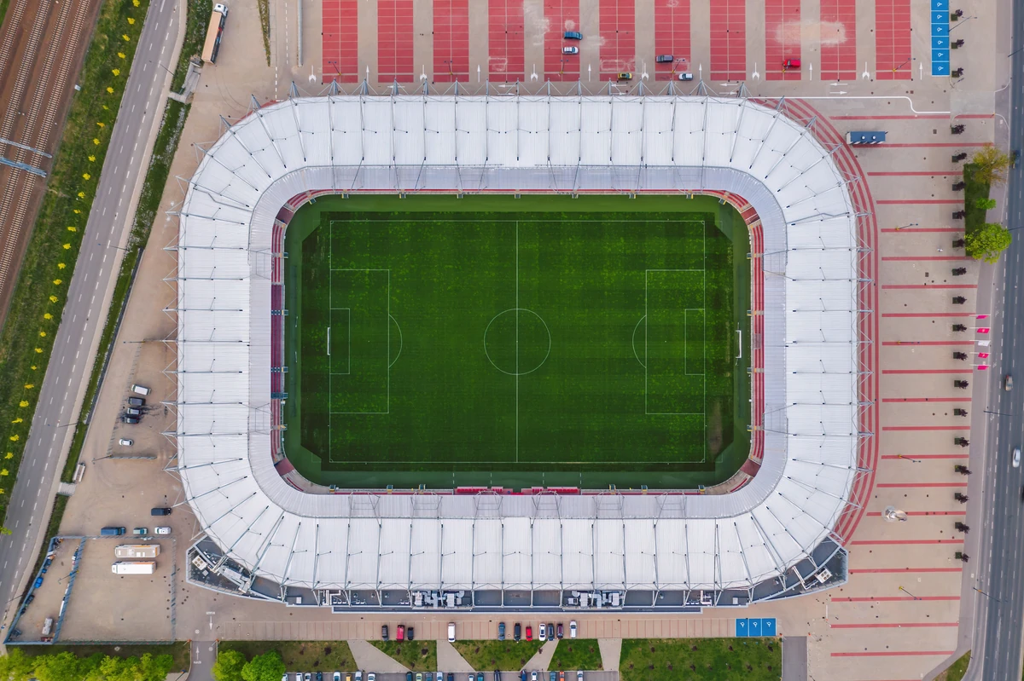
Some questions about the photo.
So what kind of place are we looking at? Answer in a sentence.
This looks like a sports ground.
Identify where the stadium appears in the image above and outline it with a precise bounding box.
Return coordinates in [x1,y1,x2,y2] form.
[161,77,874,608]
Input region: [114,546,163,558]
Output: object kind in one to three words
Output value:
vehicle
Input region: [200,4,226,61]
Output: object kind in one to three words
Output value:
truck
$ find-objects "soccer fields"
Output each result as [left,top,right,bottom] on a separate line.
[285,195,751,489]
